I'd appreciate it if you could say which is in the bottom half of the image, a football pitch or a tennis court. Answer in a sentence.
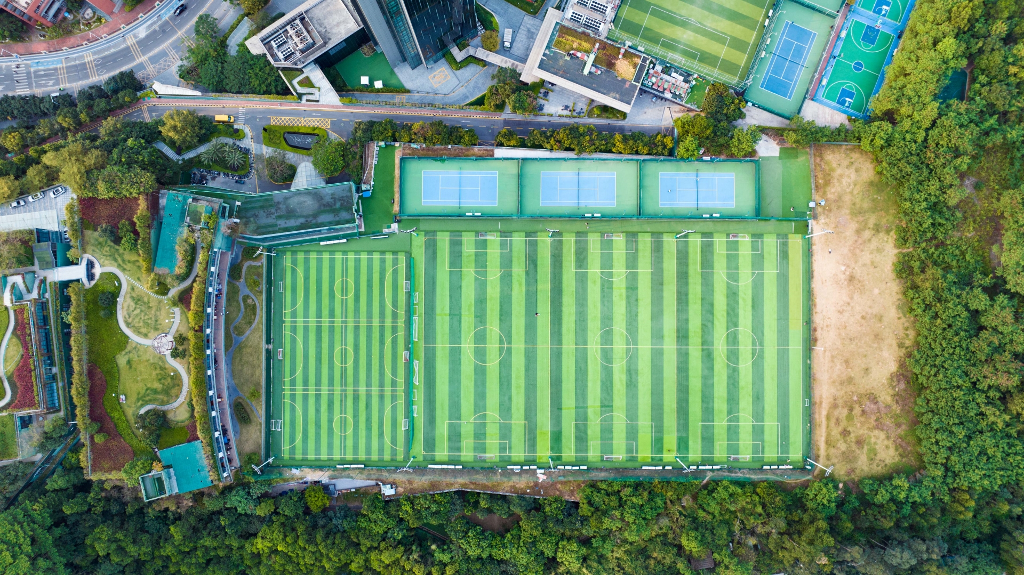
Visible in the bottom half of the image is a football pitch.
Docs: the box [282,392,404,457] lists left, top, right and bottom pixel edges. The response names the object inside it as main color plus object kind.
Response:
green soccer field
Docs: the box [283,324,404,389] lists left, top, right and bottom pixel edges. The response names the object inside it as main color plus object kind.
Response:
green soccer field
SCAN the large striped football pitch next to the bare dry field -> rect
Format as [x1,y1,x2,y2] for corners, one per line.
[676,232,811,462]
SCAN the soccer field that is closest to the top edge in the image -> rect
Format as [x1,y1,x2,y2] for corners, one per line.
[609,0,784,86]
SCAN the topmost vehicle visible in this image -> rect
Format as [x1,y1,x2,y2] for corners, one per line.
[172,2,186,16]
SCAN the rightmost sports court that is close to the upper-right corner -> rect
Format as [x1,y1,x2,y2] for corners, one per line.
[940,69,966,101]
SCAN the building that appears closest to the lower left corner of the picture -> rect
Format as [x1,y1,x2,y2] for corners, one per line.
[139,467,177,502]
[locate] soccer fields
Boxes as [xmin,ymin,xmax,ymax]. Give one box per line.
[283,256,405,320]
[422,232,553,462]
[676,232,811,462]
[283,324,404,389]
[609,0,784,86]
[550,232,679,462]
[282,392,404,457]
